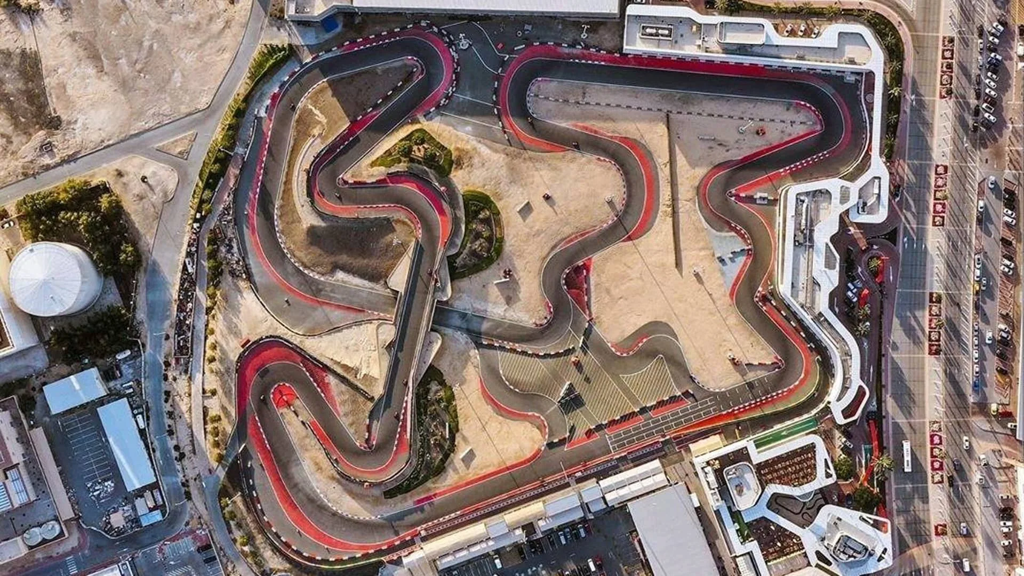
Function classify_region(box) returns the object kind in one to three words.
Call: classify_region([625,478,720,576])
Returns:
building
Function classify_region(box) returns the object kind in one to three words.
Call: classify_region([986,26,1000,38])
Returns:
vehicle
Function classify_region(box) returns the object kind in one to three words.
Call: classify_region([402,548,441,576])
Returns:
building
